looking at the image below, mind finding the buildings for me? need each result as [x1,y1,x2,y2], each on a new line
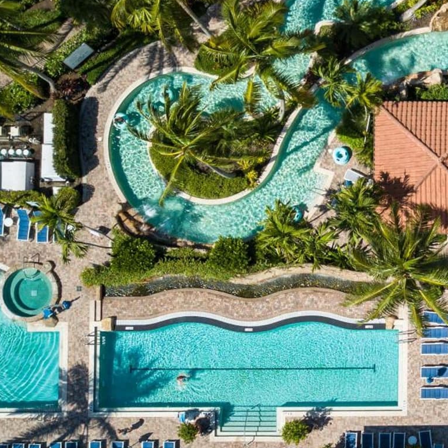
[373,100,448,234]
[0,160,47,191]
